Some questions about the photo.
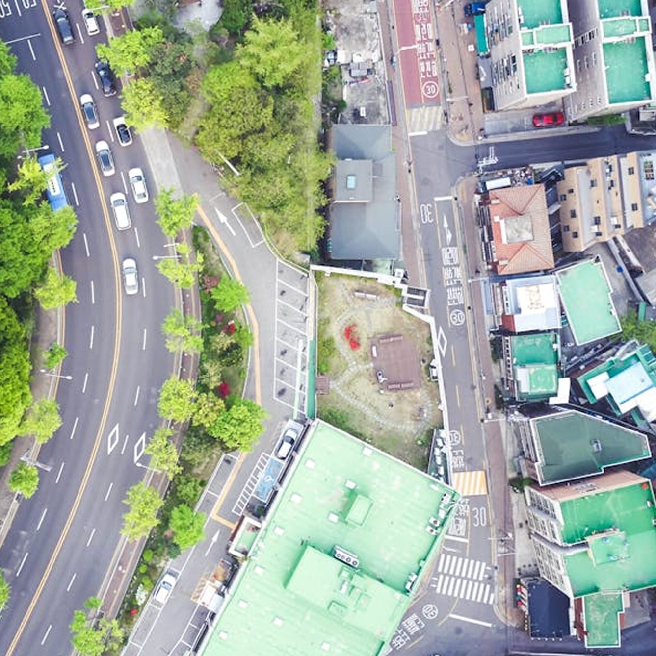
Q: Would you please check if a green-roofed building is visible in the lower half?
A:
Yes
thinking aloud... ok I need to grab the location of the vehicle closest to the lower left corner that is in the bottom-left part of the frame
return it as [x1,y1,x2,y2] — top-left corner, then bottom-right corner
[151,568,179,606]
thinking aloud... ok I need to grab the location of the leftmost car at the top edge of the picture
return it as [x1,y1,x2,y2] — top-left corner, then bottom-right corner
[53,8,73,47]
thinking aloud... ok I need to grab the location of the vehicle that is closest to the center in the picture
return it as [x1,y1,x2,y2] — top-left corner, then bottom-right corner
[274,423,301,461]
